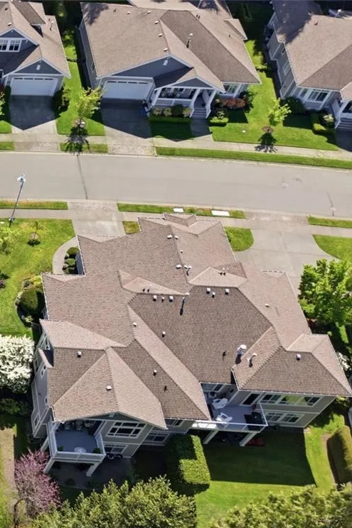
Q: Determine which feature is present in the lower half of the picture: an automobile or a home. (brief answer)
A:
home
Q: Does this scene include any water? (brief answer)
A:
No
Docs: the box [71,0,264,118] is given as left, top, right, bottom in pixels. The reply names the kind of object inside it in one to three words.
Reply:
house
